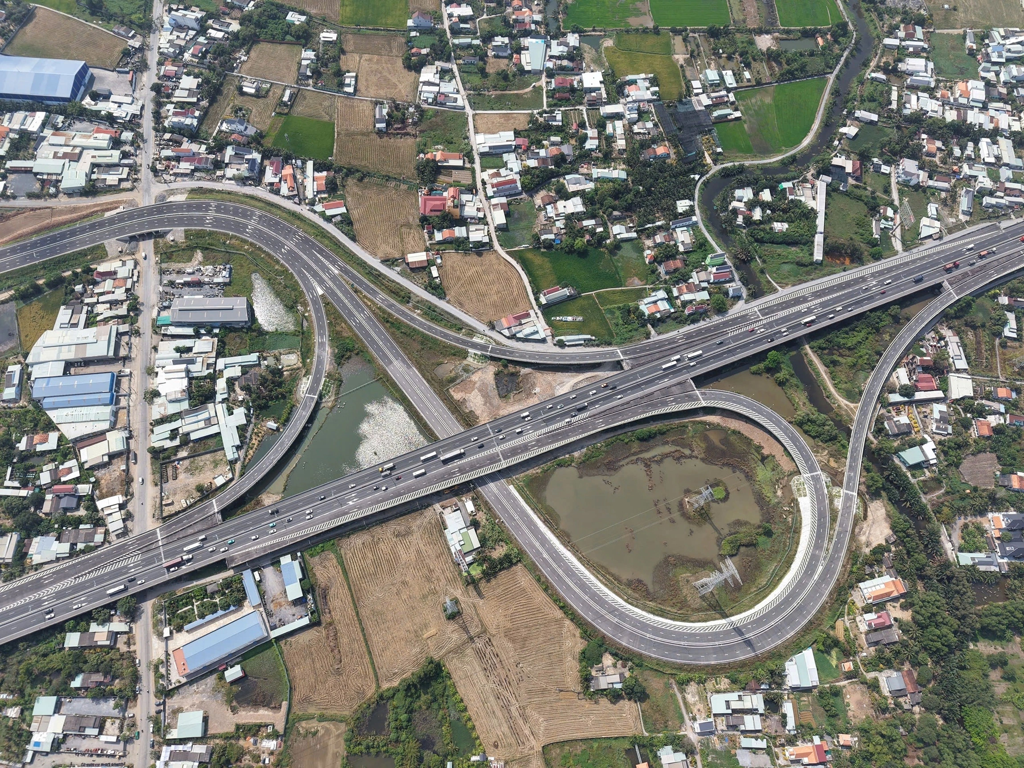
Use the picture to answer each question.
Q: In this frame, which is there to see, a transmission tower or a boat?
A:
transmission tower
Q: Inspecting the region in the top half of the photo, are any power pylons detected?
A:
No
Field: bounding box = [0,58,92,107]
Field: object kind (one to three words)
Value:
building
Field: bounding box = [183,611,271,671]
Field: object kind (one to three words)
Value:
building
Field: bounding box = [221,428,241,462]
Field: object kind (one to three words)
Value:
house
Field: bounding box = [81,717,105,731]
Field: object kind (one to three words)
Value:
house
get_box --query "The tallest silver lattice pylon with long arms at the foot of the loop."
[689,554,746,603]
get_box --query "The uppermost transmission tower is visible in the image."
[686,481,716,515]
